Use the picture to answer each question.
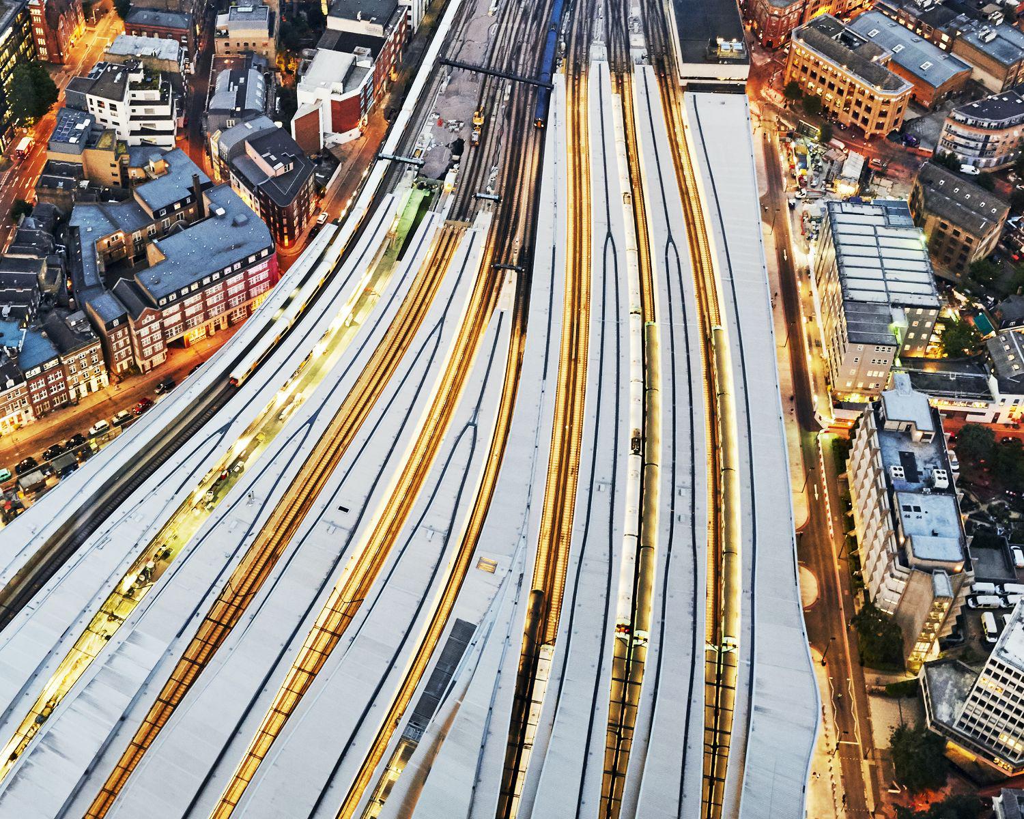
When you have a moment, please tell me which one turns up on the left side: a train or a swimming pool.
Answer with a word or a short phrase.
train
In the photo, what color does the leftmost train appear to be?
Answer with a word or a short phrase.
white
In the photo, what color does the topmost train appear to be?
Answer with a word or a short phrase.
blue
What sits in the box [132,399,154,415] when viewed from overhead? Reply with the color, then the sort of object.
red car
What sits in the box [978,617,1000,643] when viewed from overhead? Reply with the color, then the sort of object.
white vehicle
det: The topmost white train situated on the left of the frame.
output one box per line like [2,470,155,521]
[235,0,468,392]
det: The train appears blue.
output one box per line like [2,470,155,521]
[534,0,567,136]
